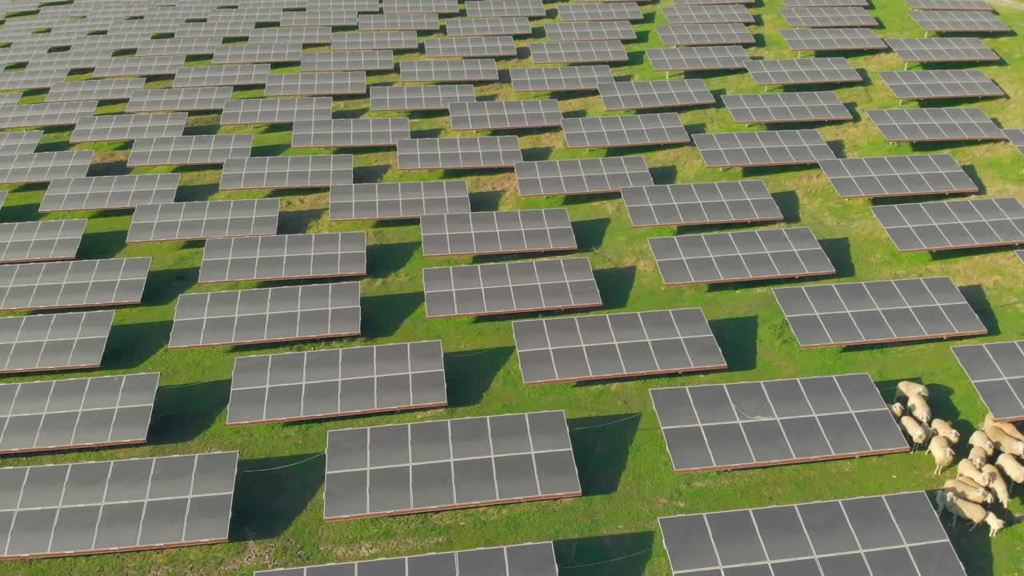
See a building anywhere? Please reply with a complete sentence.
No, the scene contains no building.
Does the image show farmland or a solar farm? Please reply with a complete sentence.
What you see here is a solar farm.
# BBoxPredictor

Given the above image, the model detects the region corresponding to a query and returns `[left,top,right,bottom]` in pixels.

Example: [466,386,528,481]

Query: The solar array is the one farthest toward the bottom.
[255,542,557,576]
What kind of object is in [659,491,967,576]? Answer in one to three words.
solar array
